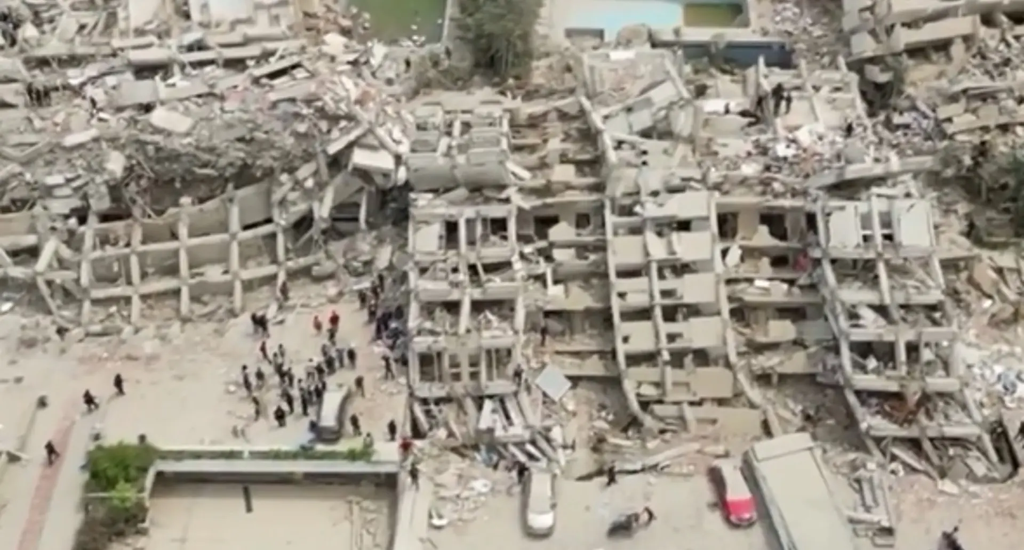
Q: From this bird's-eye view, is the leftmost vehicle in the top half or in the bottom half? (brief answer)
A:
bottom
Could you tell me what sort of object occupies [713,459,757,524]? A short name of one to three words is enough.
car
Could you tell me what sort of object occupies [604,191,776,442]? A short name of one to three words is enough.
building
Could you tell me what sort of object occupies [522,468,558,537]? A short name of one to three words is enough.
car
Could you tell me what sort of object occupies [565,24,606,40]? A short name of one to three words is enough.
shed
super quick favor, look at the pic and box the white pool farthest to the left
[553,0,680,43]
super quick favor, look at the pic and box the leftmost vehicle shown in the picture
[313,380,349,437]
